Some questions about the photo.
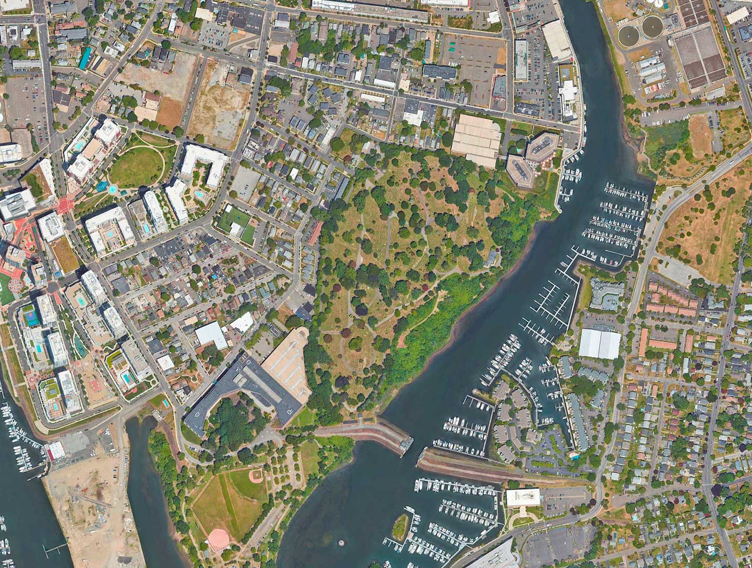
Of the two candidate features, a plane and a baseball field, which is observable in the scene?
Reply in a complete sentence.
Looking from above, you can make out a baseball field.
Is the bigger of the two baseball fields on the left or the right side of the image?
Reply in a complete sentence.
It is on the left.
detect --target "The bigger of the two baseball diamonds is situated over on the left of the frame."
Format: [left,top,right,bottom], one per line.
[191,466,267,552]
